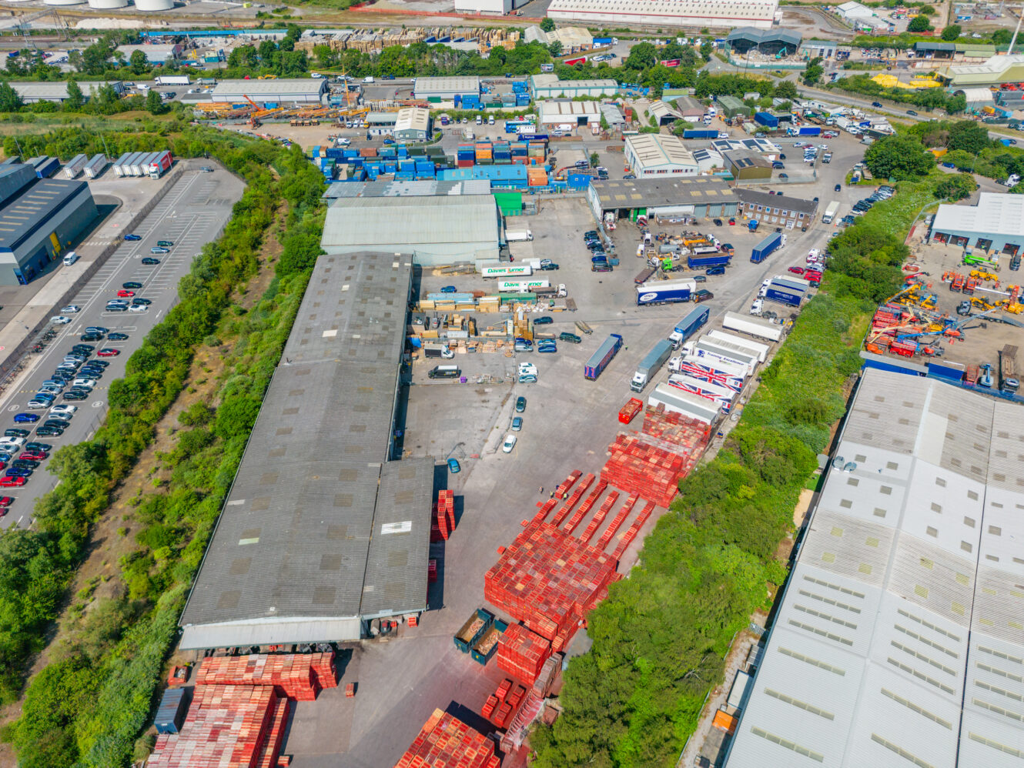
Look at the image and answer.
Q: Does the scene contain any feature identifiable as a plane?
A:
No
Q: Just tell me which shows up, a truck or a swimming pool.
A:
truck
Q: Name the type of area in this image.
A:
industrial area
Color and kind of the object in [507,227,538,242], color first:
white vehicle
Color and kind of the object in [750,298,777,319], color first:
white truck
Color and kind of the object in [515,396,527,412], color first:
blue vehicle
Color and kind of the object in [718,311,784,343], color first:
white trailer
